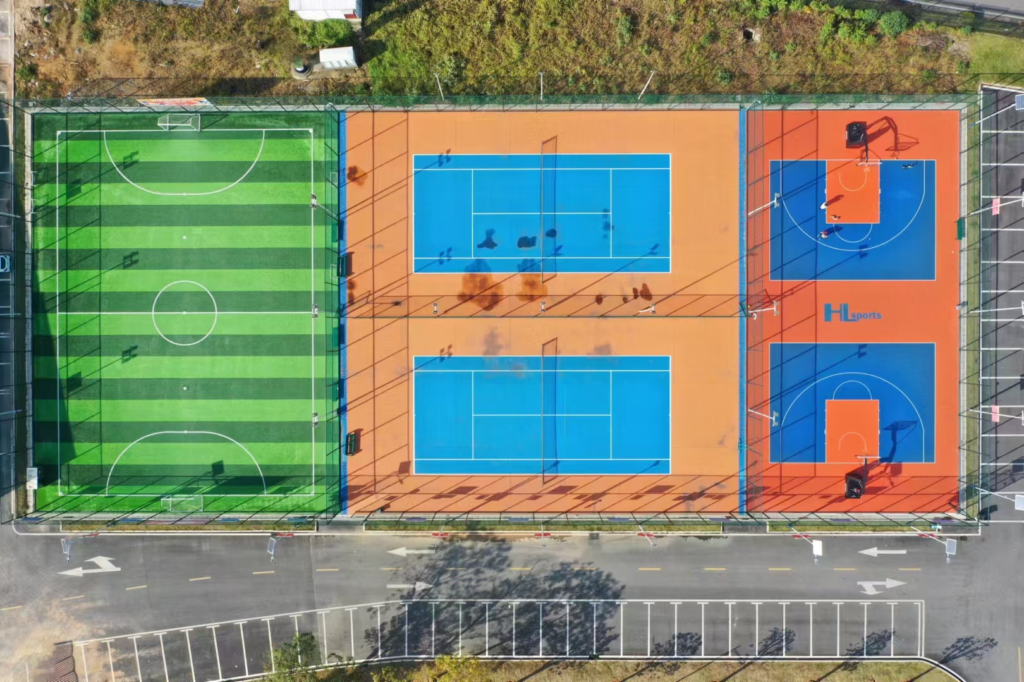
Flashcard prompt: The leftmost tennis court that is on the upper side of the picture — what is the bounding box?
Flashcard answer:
[413,153,671,273]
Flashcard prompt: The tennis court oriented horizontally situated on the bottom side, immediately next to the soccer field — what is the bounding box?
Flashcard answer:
[413,356,671,475]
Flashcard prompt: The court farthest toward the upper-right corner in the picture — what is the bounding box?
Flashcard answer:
[769,160,936,281]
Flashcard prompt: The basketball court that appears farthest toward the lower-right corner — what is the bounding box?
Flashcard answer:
[769,343,936,464]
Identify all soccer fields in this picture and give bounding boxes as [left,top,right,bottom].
[32,113,342,512]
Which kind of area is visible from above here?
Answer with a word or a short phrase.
sports ground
